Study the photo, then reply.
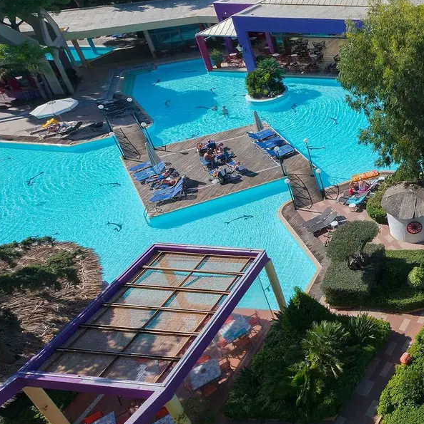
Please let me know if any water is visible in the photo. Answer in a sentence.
Yes, there is water in the image.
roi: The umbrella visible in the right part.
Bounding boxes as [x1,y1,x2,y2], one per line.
[249,97,263,131]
